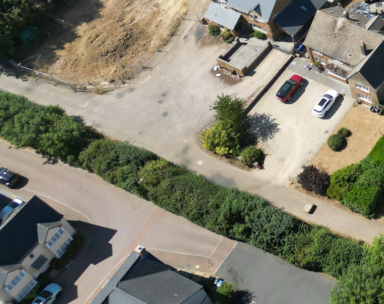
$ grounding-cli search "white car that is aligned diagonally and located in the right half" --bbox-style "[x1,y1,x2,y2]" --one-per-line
[311,91,339,119]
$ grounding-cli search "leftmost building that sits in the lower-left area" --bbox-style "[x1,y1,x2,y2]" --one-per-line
[0,194,78,304]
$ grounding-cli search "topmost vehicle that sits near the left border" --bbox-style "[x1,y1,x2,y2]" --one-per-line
[0,170,24,190]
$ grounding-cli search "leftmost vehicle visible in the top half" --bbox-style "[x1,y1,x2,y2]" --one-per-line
[277,76,304,103]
